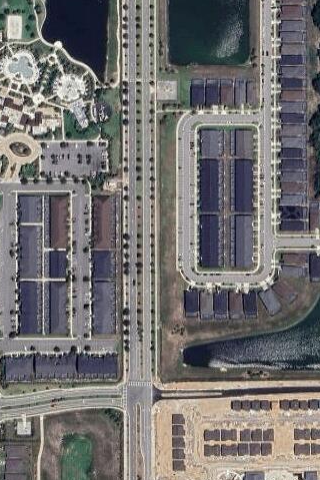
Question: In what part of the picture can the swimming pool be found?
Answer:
top left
